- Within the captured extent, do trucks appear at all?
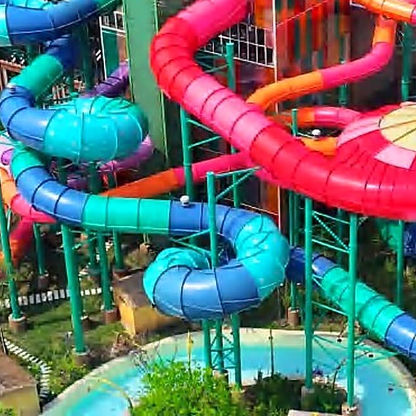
No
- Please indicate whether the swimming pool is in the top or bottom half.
bottom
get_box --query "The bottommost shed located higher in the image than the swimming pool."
[103,270,188,342]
